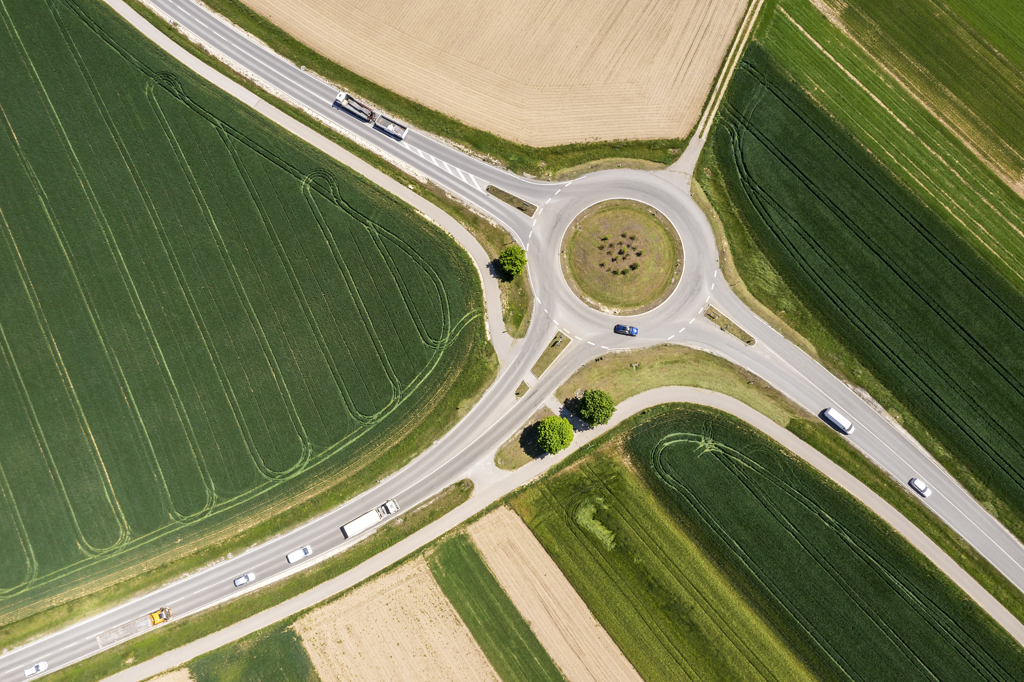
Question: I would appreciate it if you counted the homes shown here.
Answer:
0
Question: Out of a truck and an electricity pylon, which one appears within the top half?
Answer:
truck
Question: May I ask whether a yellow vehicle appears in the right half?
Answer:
No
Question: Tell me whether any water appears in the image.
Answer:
No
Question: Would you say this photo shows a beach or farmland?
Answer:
farmland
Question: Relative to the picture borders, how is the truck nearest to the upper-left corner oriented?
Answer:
on a diagonal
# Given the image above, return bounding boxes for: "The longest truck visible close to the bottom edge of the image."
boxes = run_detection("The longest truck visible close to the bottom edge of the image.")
[97,605,175,648]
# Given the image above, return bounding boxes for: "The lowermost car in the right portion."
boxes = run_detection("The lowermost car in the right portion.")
[908,477,933,497]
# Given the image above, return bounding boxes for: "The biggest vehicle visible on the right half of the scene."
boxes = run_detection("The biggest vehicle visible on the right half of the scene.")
[823,408,856,433]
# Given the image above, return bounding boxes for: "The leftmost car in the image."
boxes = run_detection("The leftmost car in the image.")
[24,662,48,679]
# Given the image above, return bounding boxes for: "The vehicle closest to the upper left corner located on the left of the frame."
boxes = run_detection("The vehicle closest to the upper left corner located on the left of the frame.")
[332,86,377,121]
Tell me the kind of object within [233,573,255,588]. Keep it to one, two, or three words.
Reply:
car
